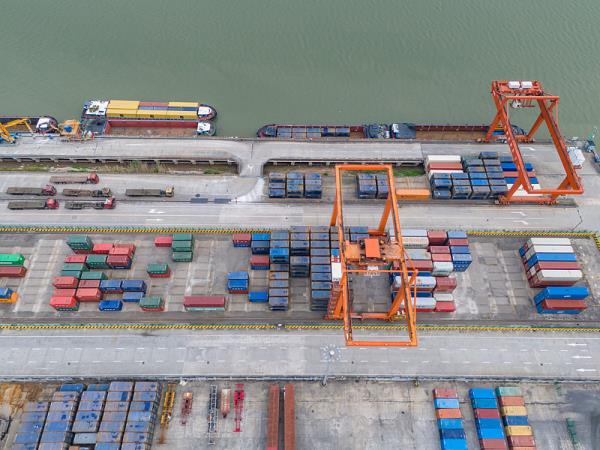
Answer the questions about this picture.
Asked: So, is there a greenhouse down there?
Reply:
No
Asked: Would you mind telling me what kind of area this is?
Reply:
port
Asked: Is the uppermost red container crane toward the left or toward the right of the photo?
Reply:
right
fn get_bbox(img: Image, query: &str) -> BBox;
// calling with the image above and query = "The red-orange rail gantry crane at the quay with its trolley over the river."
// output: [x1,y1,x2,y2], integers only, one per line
[479,78,585,204]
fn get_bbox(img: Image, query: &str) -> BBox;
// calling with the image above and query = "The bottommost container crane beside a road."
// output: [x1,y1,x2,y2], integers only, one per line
[327,166,419,347]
